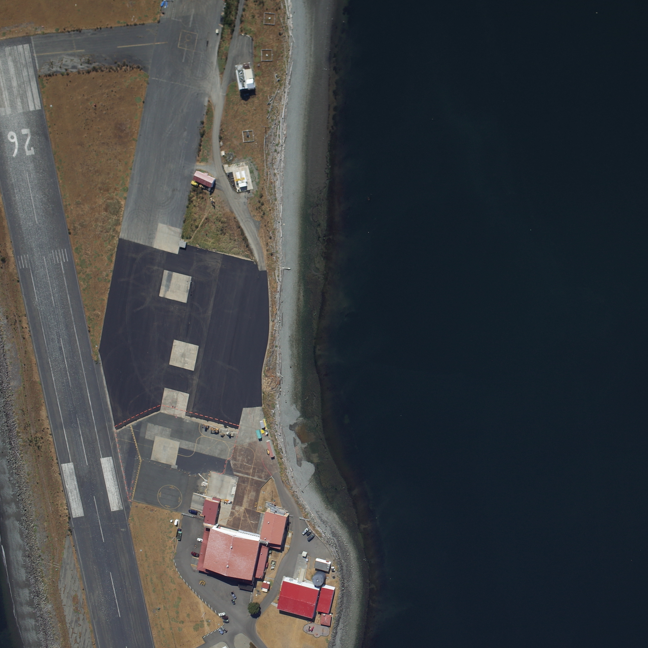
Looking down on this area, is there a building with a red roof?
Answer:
Yes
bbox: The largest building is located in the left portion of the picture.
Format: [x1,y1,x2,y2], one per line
[197,518,269,580]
